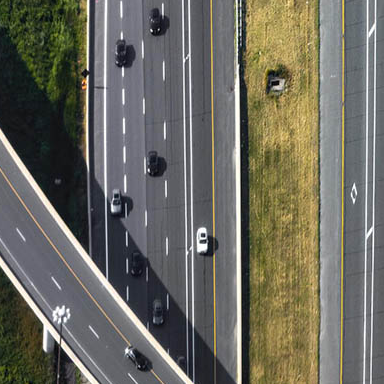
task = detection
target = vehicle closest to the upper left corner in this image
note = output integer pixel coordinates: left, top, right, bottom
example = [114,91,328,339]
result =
[114,41,127,67]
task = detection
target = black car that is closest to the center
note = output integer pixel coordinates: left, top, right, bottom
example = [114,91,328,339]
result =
[146,152,159,176]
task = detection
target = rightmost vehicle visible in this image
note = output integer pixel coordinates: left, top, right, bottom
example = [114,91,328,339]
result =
[195,228,209,254]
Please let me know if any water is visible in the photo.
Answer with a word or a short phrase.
No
